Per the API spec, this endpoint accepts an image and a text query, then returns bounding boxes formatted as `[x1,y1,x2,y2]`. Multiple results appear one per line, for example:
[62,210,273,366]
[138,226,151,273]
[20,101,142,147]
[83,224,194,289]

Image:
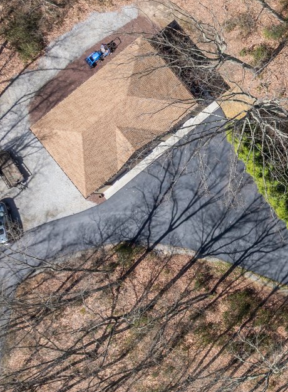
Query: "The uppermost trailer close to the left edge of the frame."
[0,150,25,192]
